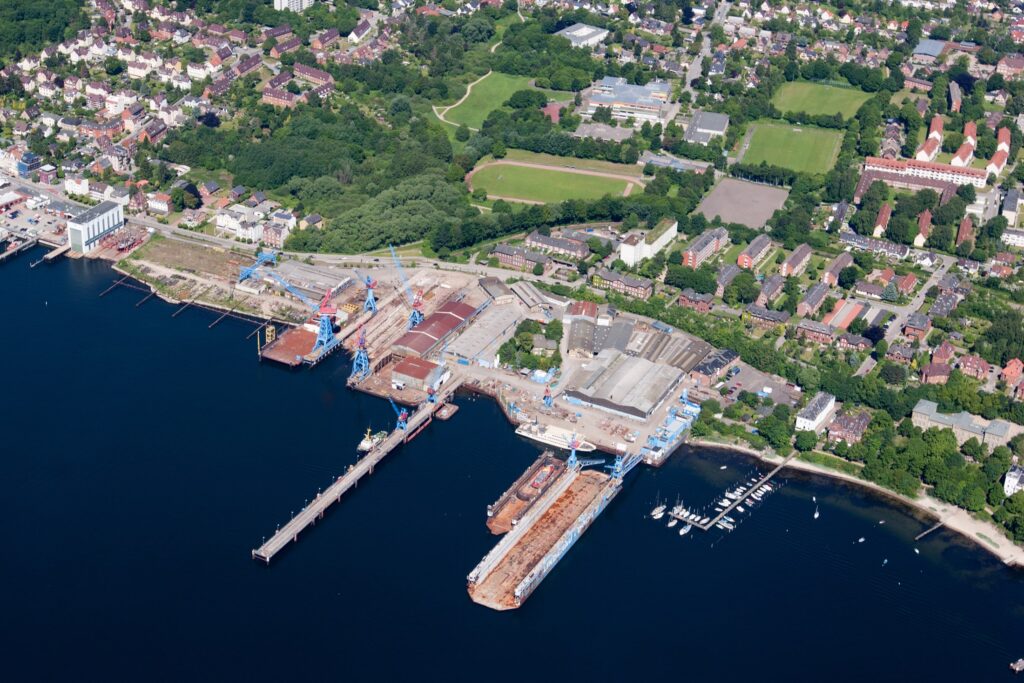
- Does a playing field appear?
Yes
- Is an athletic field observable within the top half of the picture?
Yes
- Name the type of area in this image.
port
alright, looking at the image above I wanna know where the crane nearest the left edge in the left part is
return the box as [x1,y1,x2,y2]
[266,270,334,356]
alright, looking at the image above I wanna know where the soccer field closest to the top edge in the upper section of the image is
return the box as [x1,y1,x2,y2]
[771,80,869,119]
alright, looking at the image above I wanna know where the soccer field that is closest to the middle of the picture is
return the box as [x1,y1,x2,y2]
[472,164,630,200]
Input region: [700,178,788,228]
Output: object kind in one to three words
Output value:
sports field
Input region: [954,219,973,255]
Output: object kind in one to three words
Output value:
building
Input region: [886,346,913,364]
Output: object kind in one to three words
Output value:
house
